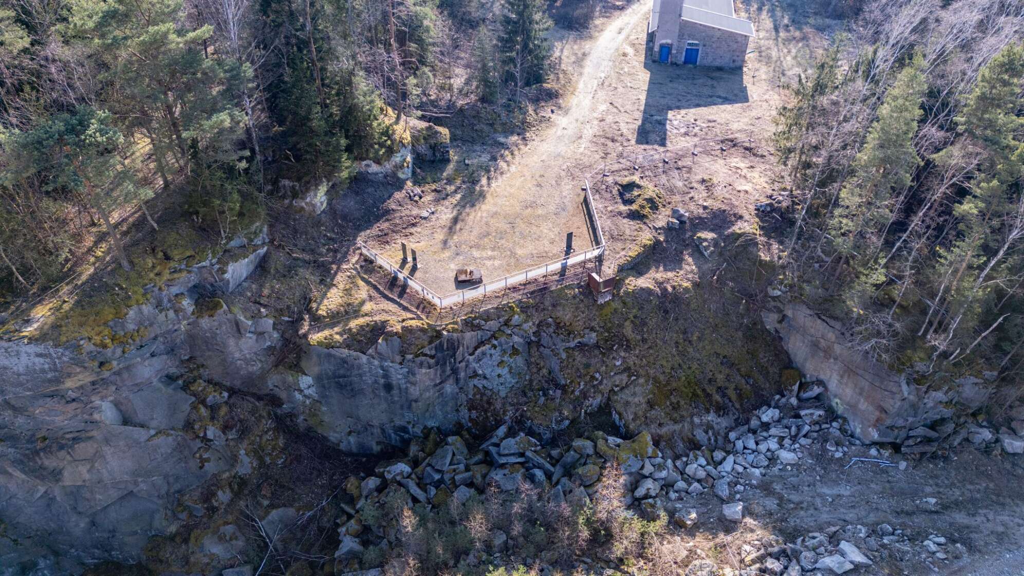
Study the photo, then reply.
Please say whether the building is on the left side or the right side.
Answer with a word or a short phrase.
right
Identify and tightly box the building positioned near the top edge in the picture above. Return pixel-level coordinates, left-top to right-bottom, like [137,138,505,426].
[647,0,757,67]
